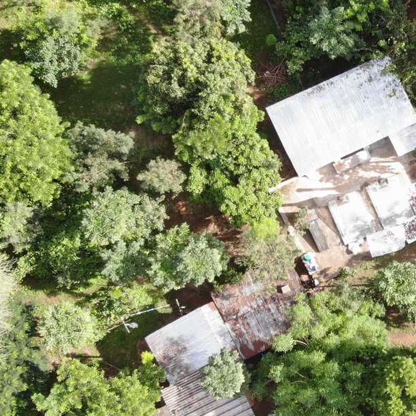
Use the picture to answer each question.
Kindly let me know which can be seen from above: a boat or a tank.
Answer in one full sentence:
Visible in the photo is a tank.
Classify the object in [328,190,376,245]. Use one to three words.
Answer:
storage tank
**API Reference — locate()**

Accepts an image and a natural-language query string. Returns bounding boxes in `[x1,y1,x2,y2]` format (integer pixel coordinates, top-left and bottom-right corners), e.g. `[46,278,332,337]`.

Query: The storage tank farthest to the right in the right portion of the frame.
[367,175,416,230]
